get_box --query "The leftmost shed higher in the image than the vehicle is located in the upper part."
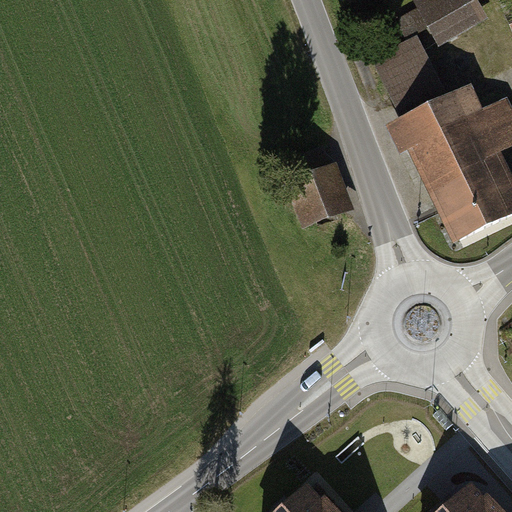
[290,166,356,229]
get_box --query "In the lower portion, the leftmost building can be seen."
[276,482,348,512]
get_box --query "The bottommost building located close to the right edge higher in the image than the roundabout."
[384,87,512,248]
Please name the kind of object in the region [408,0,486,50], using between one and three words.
barn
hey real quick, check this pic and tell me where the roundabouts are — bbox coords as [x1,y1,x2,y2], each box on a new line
[330,234,512,456]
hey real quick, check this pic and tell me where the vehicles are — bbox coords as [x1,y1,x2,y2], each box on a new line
[300,370,322,393]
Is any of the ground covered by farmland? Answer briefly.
Yes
